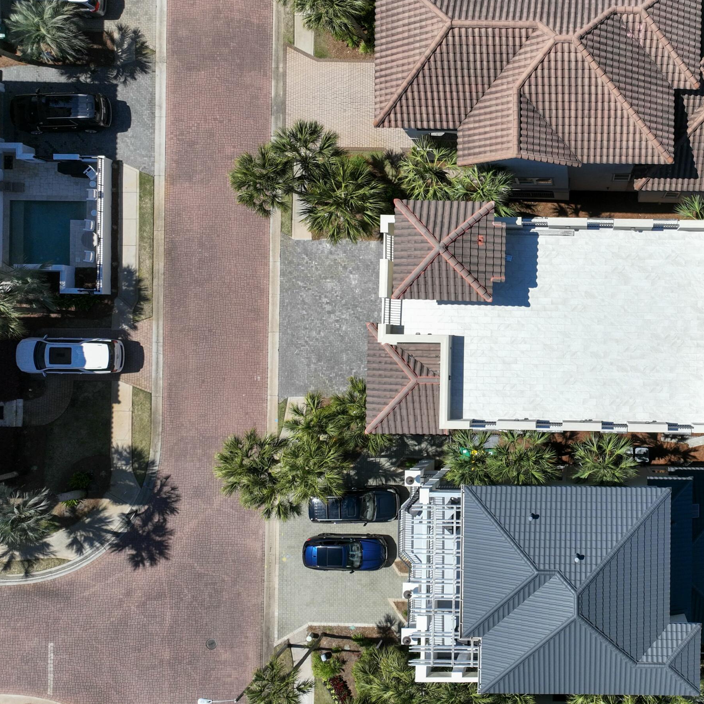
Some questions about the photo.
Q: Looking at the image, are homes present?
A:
Yes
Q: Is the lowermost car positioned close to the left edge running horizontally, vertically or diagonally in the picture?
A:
horizontally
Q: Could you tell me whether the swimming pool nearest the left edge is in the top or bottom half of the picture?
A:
top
